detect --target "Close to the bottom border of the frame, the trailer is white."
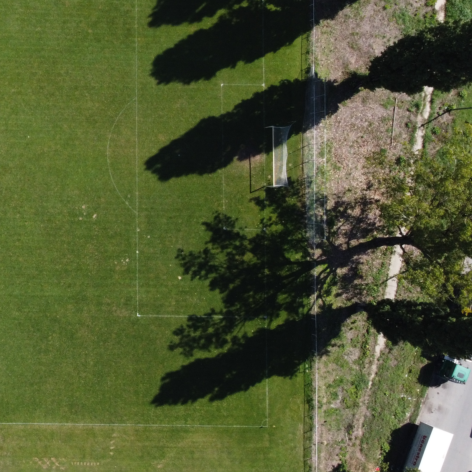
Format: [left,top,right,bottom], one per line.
[401,420,452,472]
